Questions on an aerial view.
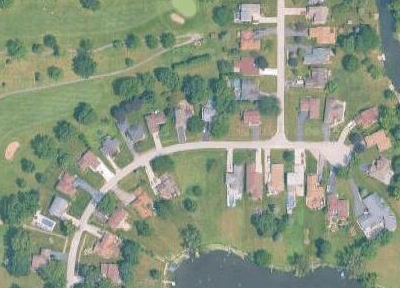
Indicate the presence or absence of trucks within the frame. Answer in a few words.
No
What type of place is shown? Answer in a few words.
residential area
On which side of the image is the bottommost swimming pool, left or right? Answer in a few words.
left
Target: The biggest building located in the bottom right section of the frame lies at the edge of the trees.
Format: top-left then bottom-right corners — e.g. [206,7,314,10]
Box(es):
[353,190,398,240]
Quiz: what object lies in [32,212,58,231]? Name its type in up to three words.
swimming pool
